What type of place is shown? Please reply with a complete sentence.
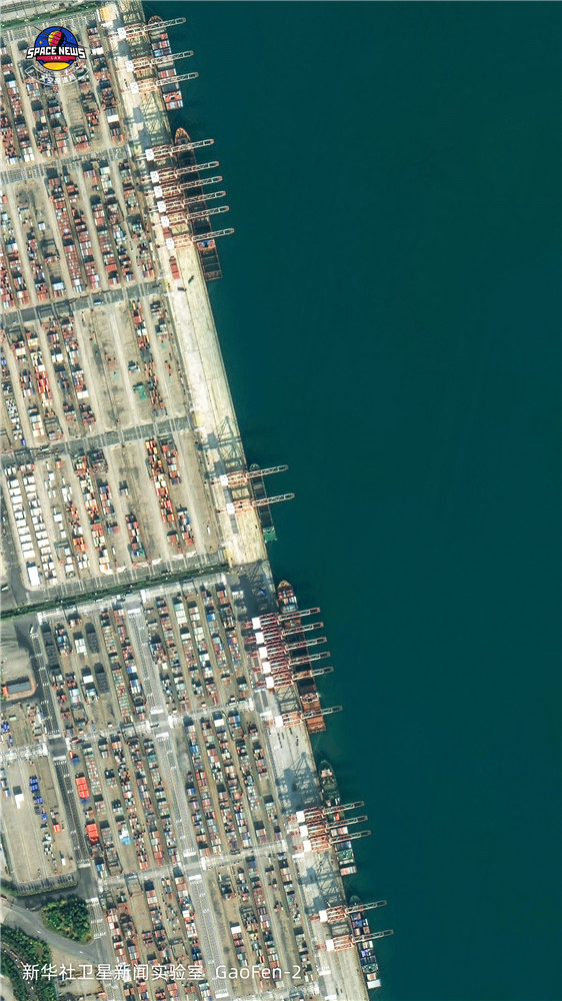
This image shows a port.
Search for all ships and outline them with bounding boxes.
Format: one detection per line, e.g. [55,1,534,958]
[278,581,325,733]
[176,128,223,281]
[251,464,279,543]
[350,896,382,987]
[150,16,185,110]
[320,761,357,875]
